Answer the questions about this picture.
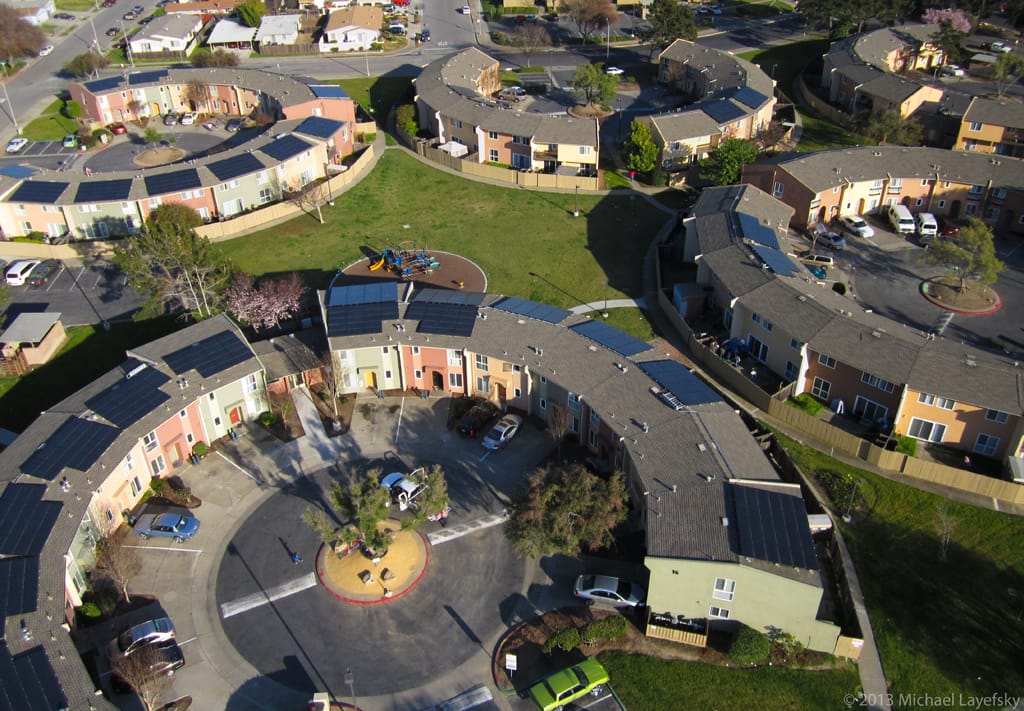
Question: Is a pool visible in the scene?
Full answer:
No, there appears to be no pool in this shot.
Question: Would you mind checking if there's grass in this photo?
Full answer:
Yes, the picture does contain grass.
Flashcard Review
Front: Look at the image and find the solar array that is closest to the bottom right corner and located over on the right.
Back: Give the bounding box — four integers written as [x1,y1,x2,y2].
[732,478,819,571]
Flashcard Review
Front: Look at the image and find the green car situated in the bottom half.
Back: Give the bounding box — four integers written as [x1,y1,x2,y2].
[528,660,615,711]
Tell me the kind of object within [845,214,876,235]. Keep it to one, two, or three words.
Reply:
car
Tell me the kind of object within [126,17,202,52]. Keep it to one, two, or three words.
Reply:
house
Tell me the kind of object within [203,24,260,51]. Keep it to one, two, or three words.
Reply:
house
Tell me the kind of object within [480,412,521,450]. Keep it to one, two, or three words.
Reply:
car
